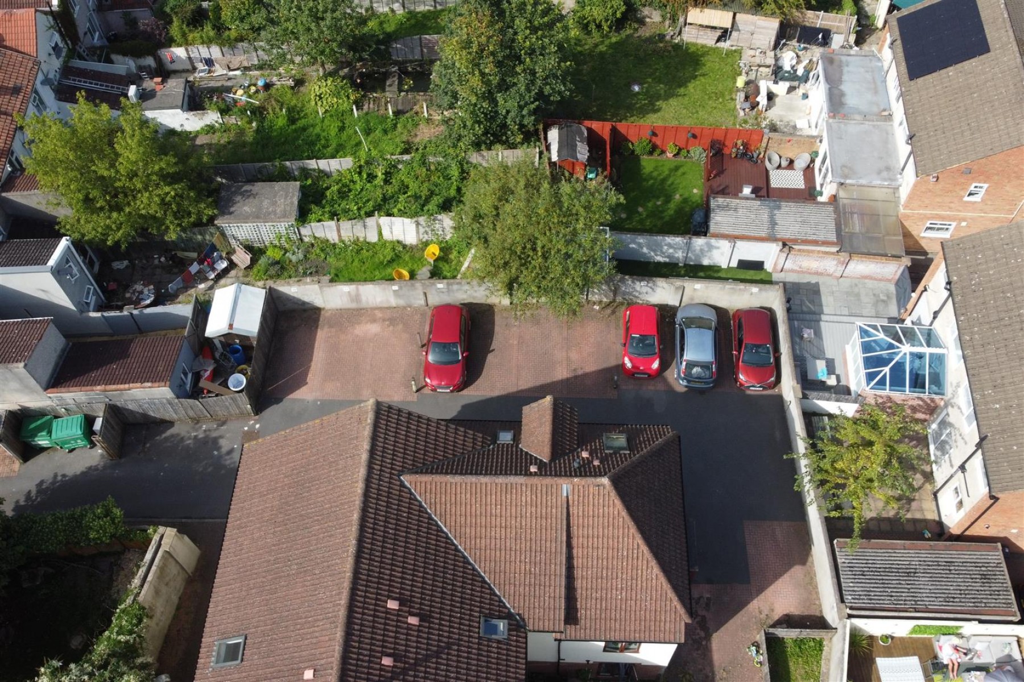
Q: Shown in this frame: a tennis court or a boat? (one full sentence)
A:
Of the two, only a boat appears.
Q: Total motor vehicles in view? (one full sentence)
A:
My tally gives 4 motor vehicles in this view.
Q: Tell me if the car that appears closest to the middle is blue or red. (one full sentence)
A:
The color of the car that appears closest to the middle is red.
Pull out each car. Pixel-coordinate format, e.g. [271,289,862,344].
[420,303,472,392]
[673,306,721,391]
[618,300,665,377]
[728,304,783,390]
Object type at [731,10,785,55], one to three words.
shed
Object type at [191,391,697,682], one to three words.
building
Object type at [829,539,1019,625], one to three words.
building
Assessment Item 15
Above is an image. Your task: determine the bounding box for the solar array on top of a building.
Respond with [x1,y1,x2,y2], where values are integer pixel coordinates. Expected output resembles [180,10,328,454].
[896,0,990,79]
